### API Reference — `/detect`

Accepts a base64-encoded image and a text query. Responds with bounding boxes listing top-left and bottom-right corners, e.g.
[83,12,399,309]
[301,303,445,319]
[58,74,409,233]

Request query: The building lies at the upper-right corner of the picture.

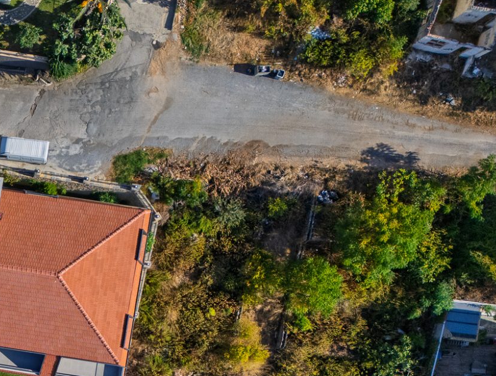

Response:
[410,0,496,81]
